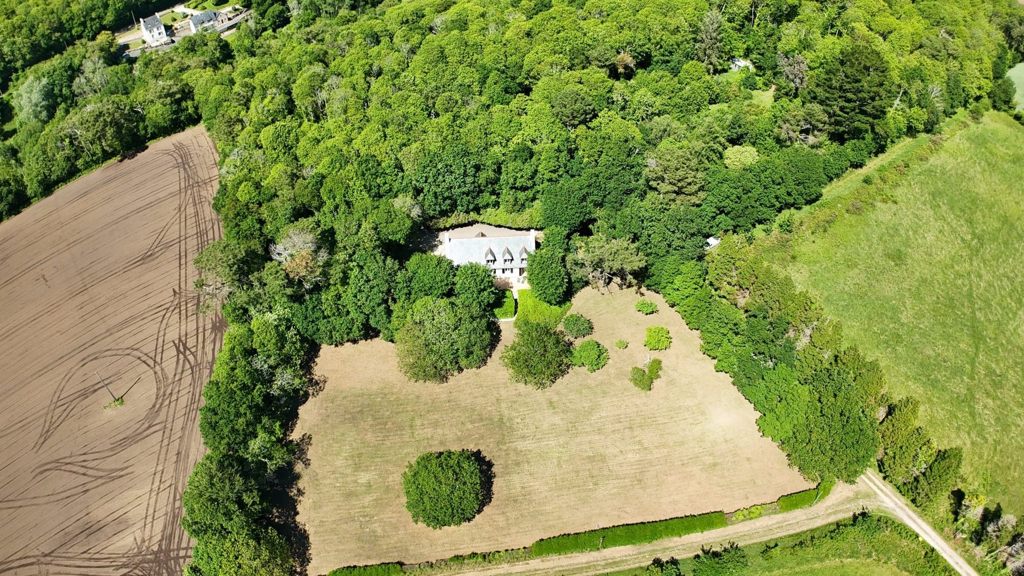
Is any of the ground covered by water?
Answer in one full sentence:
No, there is no water in the image.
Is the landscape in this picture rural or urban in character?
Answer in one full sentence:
This place is rural.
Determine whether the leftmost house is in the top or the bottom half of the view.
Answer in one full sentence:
The leftmost house sits in the top half of the picture.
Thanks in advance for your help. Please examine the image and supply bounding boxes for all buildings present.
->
[191,8,240,37]
[138,10,179,52]
[727,59,751,79]
[445,227,536,278]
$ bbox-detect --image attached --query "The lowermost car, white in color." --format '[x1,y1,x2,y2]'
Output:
[705,236,724,250]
